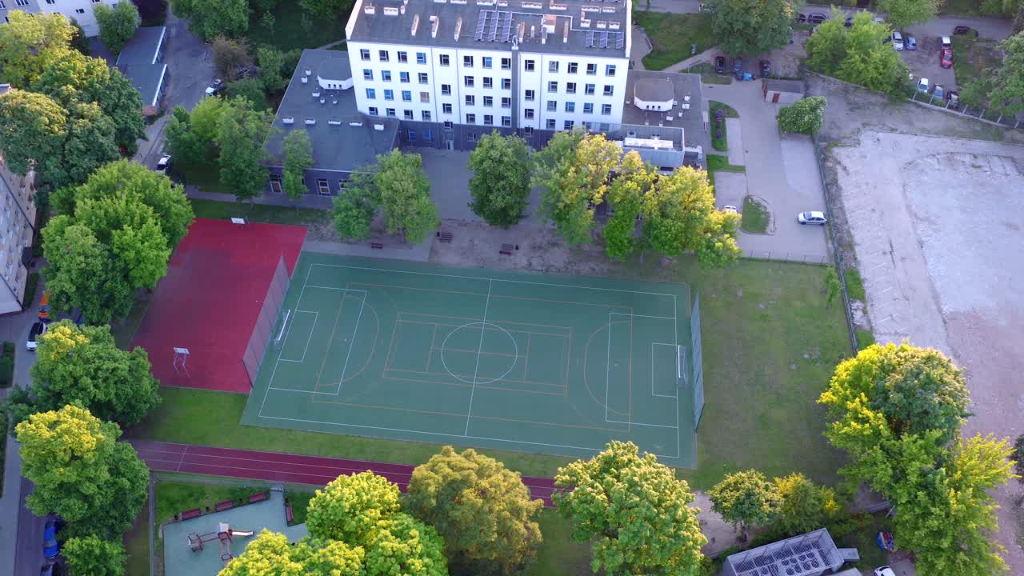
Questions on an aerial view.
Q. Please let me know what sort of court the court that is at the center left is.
basketball court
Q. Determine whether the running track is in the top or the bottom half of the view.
bottom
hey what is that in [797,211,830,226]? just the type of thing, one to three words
car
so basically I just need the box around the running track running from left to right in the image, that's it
[120,439,624,514]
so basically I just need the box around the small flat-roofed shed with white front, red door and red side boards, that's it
[764,74,808,103]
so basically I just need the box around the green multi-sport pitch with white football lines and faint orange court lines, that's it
[239,251,696,469]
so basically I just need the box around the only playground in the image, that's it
[163,485,362,576]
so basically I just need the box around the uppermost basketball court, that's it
[136,218,309,393]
